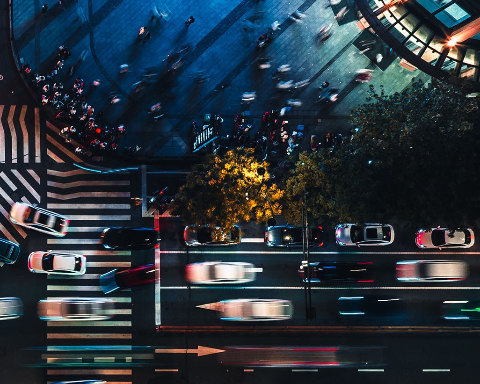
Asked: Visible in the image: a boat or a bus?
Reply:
bus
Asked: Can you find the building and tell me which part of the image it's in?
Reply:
top right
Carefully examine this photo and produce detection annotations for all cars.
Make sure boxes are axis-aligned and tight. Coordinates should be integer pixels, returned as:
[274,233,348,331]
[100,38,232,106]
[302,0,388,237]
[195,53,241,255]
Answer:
[414,226,475,251]
[0,238,21,263]
[341,293,399,320]
[99,261,164,294]
[190,259,251,286]
[0,297,14,320]
[9,202,71,235]
[185,226,241,248]
[304,258,368,286]
[27,248,87,276]
[265,222,325,250]
[46,295,106,322]
[100,223,162,252]
[400,256,464,285]
[225,295,286,324]
[333,221,396,248]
